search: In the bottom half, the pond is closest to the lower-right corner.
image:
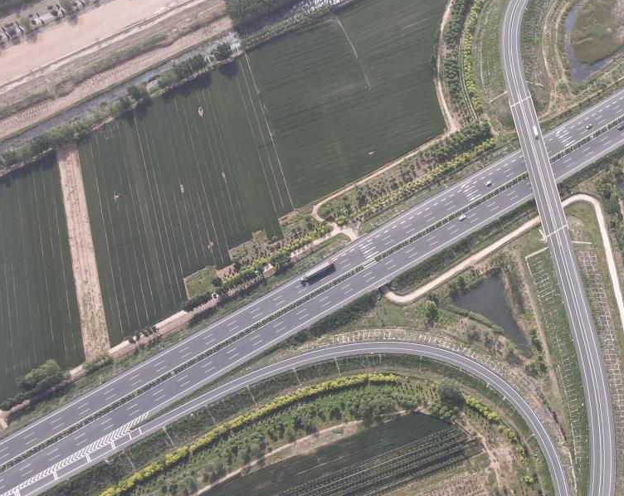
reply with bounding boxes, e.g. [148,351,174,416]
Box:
[455,274,531,355]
